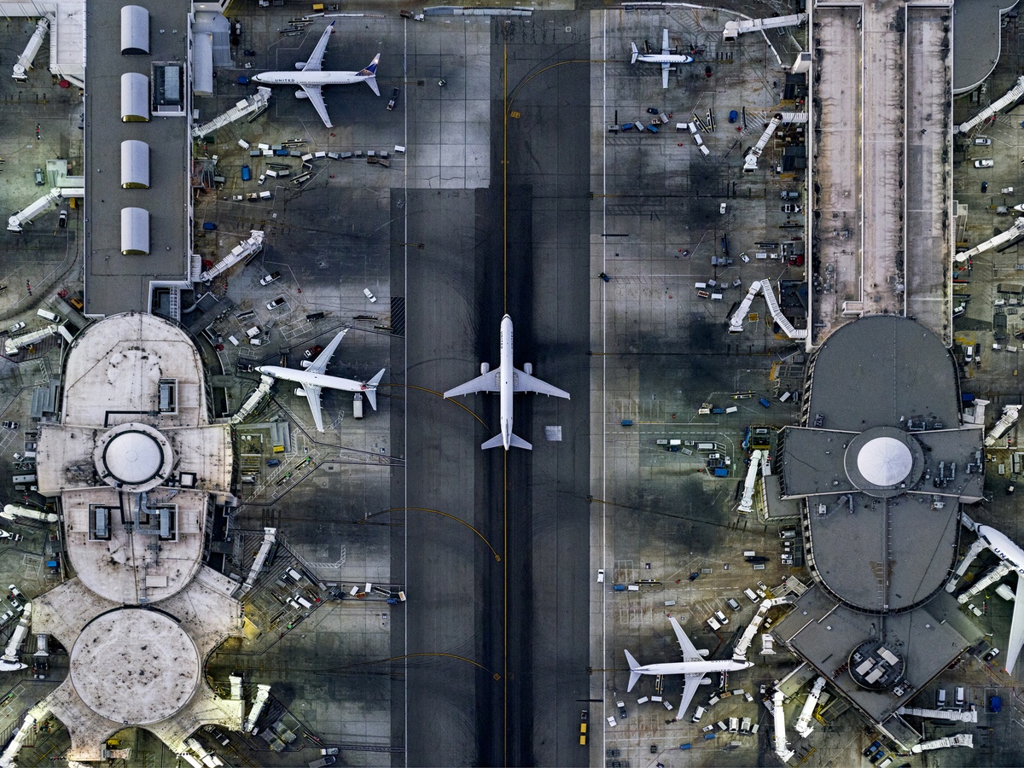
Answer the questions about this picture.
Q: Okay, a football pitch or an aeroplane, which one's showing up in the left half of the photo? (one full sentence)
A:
What appears in the left half of the photo is an aeroplane.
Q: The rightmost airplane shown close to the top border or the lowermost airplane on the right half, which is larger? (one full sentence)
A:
The rightmost airplane shown close to the top border is smaller than the lowermost airplane on the right half.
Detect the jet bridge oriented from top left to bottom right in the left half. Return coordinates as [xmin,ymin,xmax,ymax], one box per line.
[185,735,233,768]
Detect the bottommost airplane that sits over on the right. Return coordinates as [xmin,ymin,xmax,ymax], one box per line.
[623,614,754,722]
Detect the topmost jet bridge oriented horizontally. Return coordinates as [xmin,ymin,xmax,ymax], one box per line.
[721,14,805,46]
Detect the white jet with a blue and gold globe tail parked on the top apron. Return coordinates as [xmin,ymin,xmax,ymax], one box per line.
[252,21,380,128]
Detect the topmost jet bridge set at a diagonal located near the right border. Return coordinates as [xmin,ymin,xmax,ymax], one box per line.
[954,77,1024,139]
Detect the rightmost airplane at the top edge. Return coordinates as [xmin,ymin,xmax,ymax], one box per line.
[633,29,693,88]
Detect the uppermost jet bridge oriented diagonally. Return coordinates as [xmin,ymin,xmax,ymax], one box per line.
[5,13,56,82]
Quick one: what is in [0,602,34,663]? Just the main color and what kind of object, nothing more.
white jet bridge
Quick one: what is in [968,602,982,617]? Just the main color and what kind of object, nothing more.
white car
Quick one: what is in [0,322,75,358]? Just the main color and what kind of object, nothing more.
white jet bridge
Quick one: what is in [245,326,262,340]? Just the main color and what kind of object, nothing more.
white vehicle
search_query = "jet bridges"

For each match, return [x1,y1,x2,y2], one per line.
[0,602,34,663]
[741,112,805,172]
[895,705,982,725]
[954,210,1024,267]
[0,322,75,358]
[0,708,37,768]
[190,81,270,143]
[727,278,805,341]
[238,523,281,594]
[955,559,1017,604]
[984,399,1021,450]
[721,14,805,46]
[794,674,828,744]
[185,735,233,768]
[768,690,800,767]
[2,188,84,230]
[66,758,100,768]
[229,369,280,426]
[243,679,276,733]
[1,502,65,523]
[940,536,990,593]
[191,227,266,286]
[725,594,787,663]
[735,447,763,516]
[908,731,977,756]
[954,77,1024,139]
[5,13,56,82]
